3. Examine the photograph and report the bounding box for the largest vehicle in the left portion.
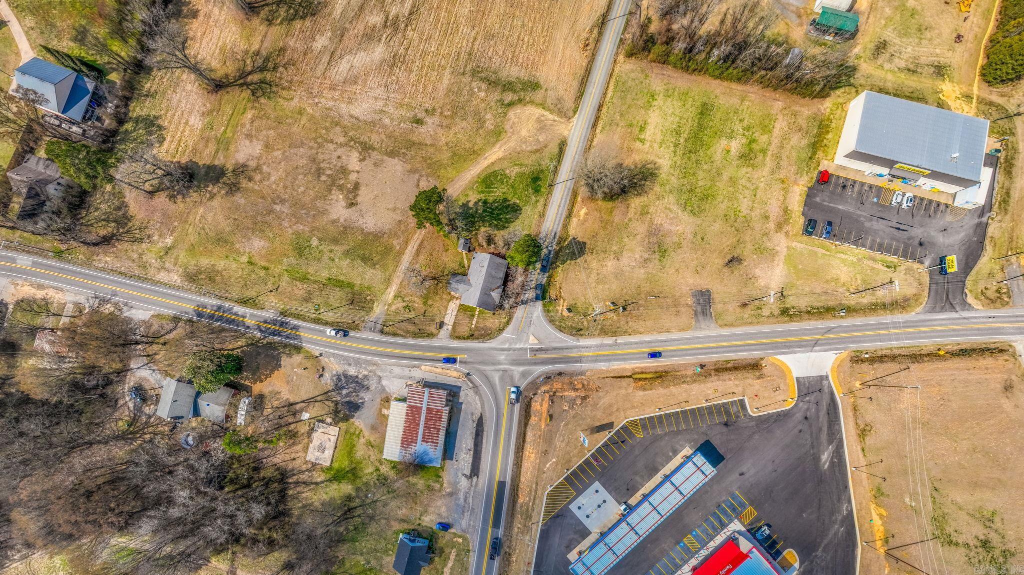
[237,393,256,425]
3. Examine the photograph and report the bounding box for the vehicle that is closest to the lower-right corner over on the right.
[755,524,772,539]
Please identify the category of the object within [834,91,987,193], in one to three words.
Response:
building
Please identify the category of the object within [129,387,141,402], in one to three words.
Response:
vehicle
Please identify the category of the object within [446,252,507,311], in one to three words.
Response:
house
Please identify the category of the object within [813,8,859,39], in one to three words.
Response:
shed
